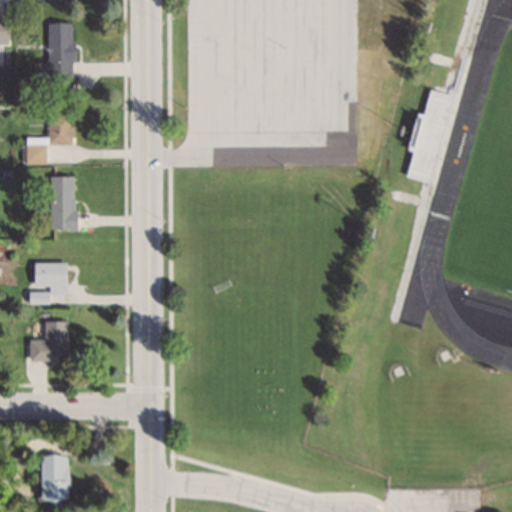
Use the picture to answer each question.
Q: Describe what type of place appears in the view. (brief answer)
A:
sports ground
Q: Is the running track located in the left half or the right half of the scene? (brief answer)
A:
right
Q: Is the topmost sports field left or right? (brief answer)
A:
right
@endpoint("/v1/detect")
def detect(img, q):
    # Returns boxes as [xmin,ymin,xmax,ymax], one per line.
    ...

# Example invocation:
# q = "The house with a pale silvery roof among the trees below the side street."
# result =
[41,455,70,503]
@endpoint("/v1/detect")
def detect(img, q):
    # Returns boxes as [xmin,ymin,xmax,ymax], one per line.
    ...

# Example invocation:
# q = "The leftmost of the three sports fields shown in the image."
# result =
[174,168,378,488]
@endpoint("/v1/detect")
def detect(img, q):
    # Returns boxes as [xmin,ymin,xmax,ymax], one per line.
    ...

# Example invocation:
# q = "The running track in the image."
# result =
[402,0,512,370]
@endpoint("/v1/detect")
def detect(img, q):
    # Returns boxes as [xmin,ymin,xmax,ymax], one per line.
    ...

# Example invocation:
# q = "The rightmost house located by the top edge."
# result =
[47,22,76,78]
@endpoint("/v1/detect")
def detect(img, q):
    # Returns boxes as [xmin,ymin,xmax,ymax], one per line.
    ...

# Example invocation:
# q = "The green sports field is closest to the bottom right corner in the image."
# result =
[382,330,512,487]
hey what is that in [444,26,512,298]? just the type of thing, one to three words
sports field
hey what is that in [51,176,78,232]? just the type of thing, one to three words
house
